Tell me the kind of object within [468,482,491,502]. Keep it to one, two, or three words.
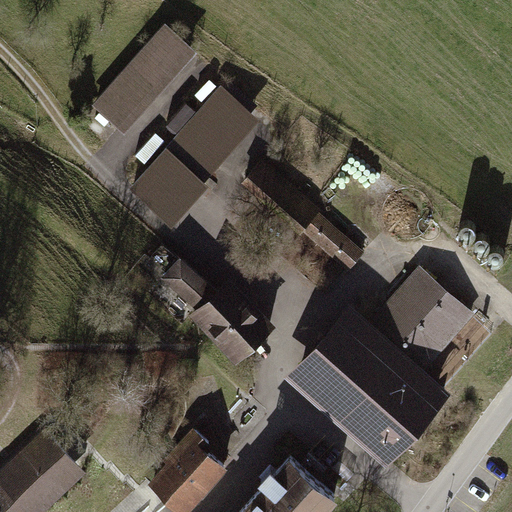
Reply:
car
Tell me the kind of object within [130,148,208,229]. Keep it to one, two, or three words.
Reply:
barn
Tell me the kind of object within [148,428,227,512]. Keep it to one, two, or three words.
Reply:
house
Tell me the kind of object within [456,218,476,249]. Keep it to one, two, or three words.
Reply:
silo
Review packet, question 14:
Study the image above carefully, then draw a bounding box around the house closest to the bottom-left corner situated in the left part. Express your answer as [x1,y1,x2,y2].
[0,432,86,512]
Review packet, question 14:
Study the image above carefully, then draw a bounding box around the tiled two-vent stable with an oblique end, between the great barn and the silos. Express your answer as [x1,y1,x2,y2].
[386,266,473,352]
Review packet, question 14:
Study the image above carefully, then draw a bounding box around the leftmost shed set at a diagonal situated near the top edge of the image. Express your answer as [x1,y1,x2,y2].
[92,24,197,134]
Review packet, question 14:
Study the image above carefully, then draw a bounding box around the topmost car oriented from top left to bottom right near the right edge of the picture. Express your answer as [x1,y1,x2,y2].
[485,460,508,480]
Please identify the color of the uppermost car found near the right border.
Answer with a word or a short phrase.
blue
